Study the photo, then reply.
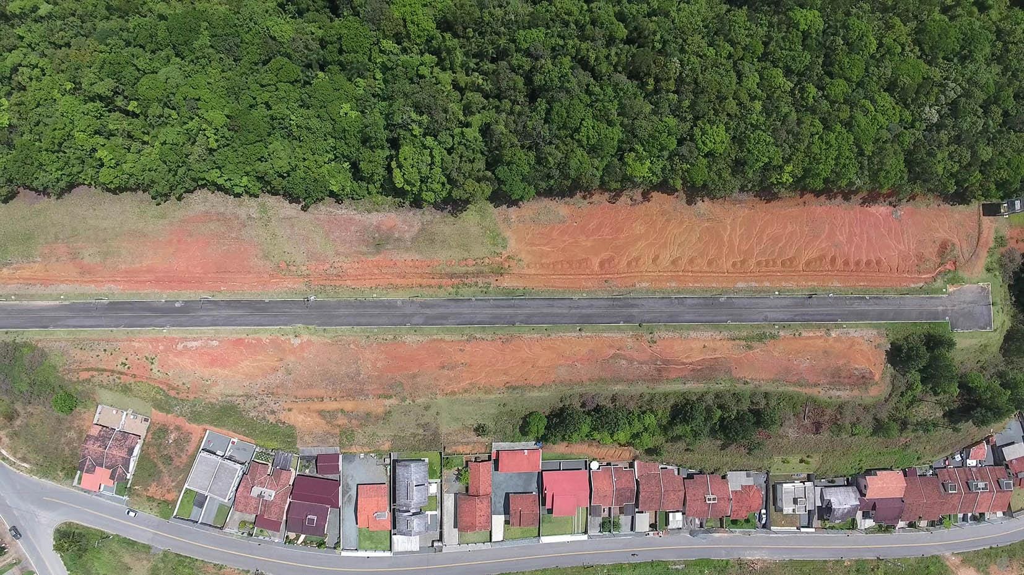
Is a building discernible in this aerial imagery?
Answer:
Yes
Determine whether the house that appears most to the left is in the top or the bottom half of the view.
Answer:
bottom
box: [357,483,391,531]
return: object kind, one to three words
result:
house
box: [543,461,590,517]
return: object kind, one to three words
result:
house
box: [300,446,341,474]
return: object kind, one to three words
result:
shed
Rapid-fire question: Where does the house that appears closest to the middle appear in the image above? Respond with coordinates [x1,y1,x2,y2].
[492,441,542,473]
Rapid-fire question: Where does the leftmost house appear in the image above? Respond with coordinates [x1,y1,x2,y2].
[79,425,143,492]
